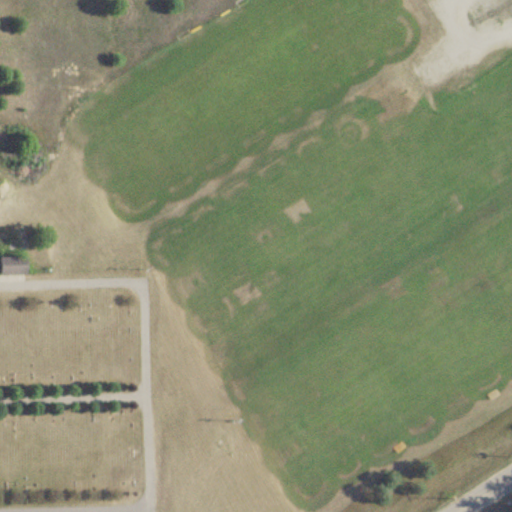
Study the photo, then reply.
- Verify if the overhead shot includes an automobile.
No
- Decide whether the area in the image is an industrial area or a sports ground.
sports ground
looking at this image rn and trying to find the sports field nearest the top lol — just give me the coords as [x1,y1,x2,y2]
[76,0,422,226]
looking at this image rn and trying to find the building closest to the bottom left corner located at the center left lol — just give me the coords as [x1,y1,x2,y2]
[2,257,29,274]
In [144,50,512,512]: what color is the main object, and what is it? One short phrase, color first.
green sports field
